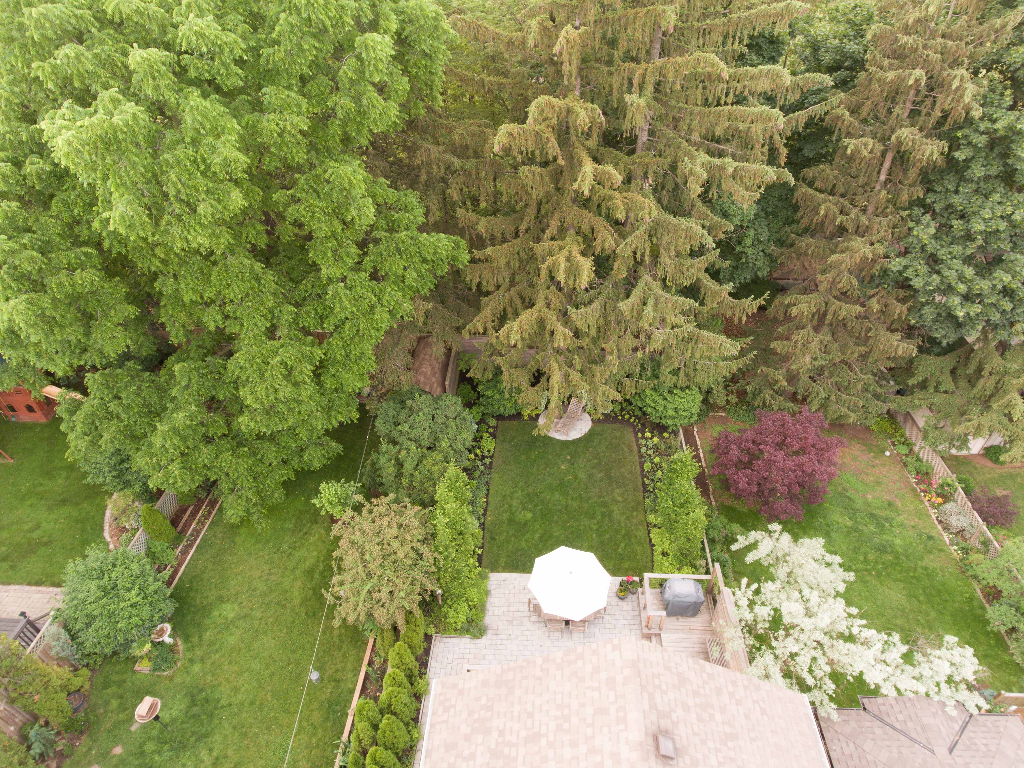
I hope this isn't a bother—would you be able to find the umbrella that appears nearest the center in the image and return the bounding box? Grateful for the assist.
[524,546,612,625]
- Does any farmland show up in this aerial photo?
No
